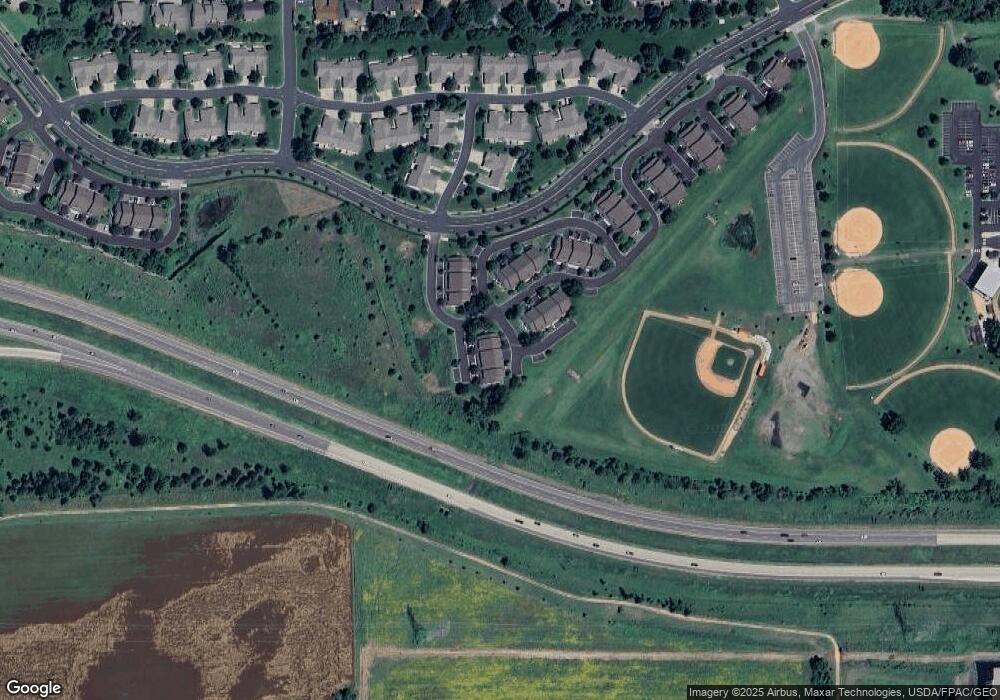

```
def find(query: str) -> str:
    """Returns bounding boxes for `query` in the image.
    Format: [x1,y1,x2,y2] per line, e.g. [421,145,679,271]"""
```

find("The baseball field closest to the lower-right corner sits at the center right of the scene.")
[874,364,1000,475]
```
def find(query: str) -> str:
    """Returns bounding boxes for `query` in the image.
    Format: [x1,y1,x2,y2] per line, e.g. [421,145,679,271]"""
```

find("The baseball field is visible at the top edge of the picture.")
[832,18,944,134]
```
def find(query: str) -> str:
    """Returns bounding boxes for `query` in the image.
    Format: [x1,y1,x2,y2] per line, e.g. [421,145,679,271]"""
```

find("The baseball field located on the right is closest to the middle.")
[622,310,771,461]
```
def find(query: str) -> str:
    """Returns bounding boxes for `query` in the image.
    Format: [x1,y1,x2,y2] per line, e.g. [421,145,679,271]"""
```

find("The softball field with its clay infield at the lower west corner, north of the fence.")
[832,141,957,257]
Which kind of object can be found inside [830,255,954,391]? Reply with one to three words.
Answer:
baseball field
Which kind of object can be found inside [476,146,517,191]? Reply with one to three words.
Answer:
house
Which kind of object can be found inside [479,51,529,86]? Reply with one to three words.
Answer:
house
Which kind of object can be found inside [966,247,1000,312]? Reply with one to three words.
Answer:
building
